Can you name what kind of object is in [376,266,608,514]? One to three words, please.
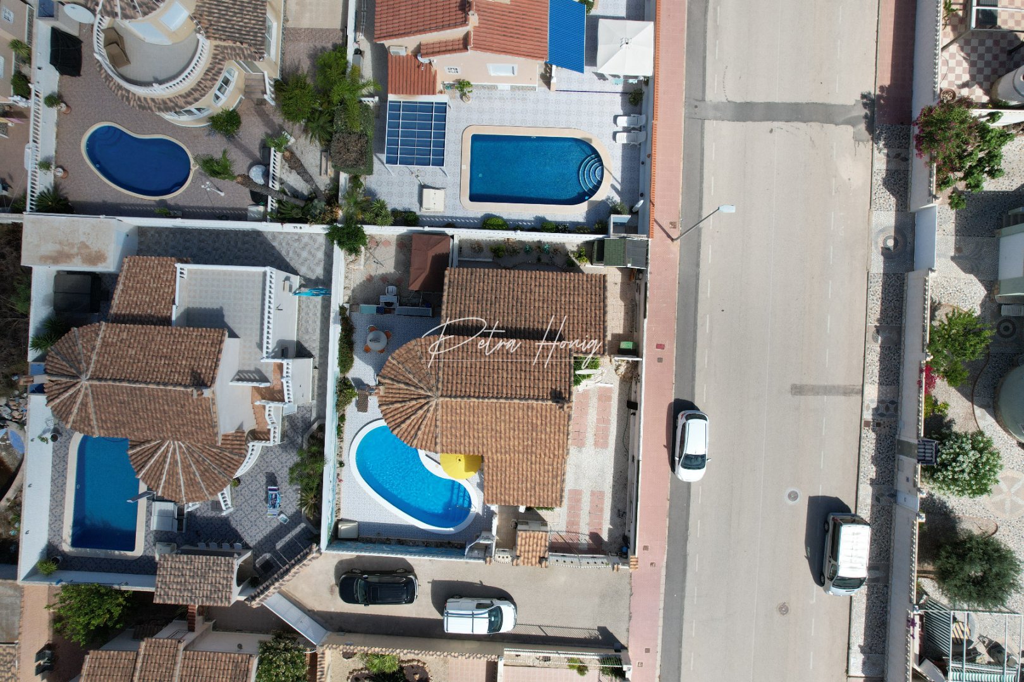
house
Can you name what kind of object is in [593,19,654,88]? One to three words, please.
gazebo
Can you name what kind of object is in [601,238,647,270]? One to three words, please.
shed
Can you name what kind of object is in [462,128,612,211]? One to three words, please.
swimming pool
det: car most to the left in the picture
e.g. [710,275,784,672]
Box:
[339,567,418,610]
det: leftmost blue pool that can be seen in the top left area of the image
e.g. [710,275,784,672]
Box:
[83,120,193,198]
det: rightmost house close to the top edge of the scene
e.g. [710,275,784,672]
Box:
[373,0,551,103]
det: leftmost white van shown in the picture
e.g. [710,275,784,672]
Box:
[443,594,518,637]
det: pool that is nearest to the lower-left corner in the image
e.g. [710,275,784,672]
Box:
[63,431,143,558]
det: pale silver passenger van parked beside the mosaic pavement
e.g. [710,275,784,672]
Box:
[824,514,871,593]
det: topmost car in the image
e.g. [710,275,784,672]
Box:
[671,410,711,482]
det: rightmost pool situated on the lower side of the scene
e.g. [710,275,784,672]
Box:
[349,418,480,536]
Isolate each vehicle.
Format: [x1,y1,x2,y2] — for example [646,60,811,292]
[339,567,418,610]
[671,410,711,482]
[824,514,871,593]
[443,594,518,637]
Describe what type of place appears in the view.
residential area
